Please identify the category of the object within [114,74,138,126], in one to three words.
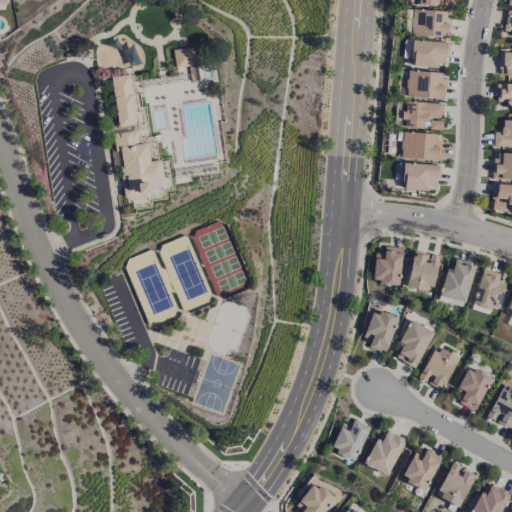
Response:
building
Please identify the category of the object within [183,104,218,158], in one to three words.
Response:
swimming pool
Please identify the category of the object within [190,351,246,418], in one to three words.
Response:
basketball court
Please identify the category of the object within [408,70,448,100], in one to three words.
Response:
house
